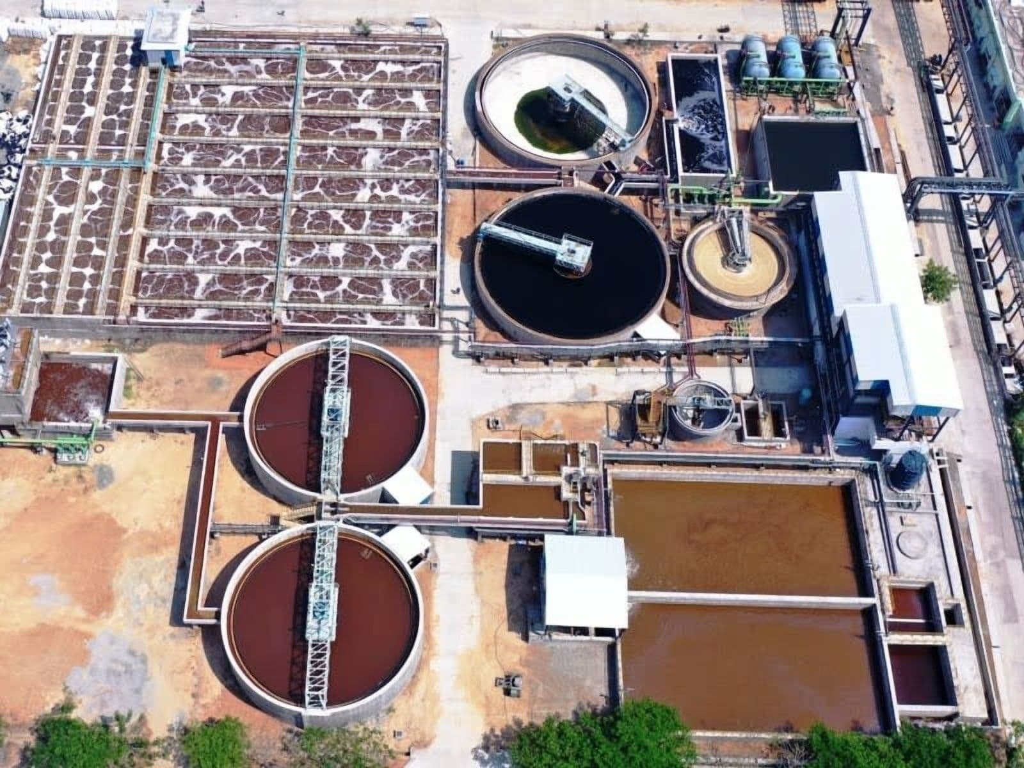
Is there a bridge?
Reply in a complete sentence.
Yes, there's a bridge down there.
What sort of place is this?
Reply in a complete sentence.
It's an industrial area.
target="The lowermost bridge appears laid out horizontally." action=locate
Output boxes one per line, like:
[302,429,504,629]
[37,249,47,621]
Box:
[211,515,286,540]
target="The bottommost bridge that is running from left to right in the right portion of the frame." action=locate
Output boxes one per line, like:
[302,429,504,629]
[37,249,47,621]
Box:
[470,320,816,367]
